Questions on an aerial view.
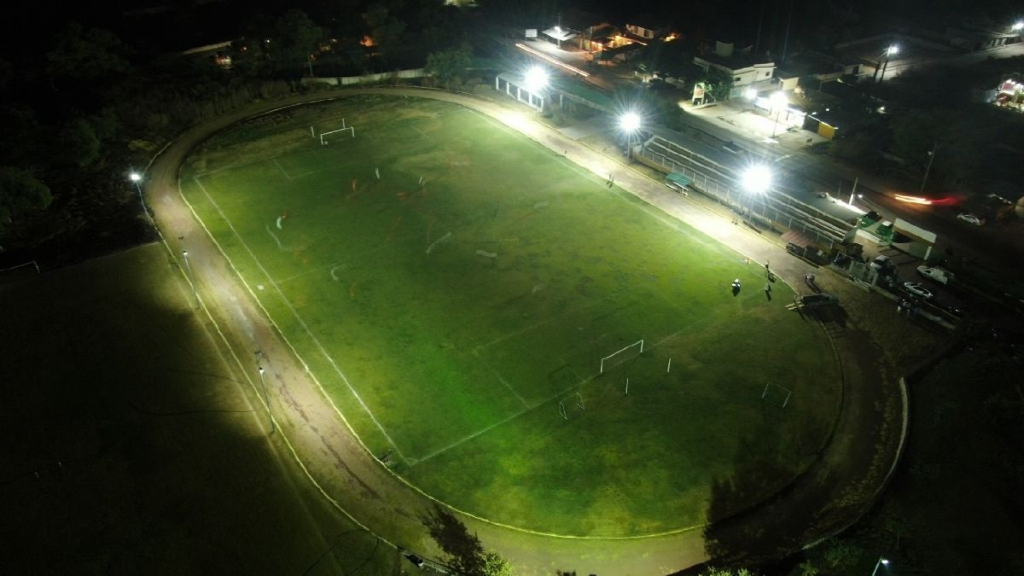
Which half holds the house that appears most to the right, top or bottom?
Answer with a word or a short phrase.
top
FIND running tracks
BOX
[143,86,904,576]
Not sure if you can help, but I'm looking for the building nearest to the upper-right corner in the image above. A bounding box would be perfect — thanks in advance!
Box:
[974,11,1024,47]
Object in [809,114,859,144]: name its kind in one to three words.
shed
